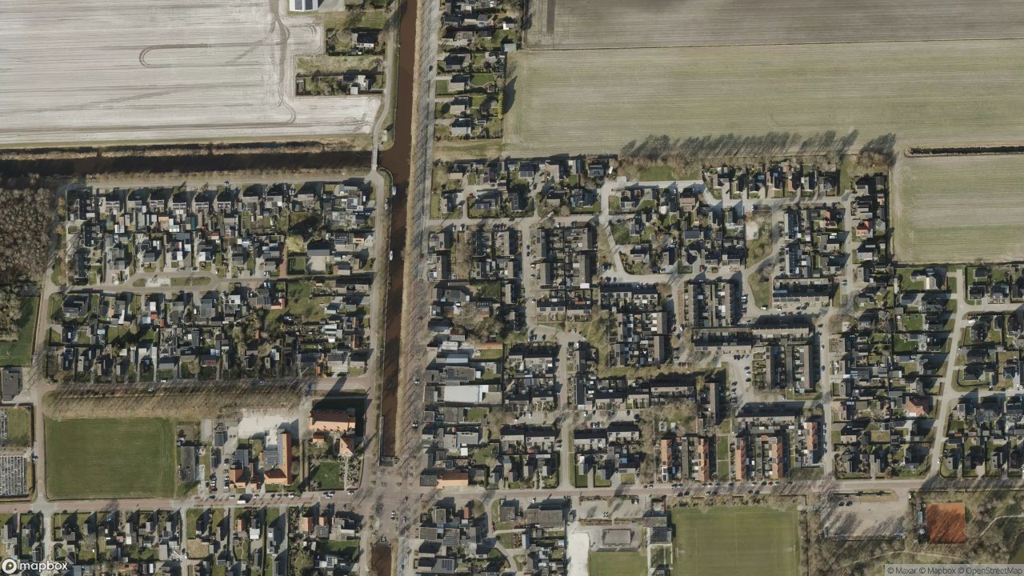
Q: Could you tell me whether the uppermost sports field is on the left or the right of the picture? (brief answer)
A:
left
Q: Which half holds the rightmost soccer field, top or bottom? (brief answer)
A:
bottom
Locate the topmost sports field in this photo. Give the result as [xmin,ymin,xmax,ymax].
[46,418,175,500]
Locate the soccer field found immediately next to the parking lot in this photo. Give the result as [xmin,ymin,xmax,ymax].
[665,506,801,576]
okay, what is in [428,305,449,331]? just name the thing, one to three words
house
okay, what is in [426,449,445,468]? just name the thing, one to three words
house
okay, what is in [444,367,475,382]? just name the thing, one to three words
building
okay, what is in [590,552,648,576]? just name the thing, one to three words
sports field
